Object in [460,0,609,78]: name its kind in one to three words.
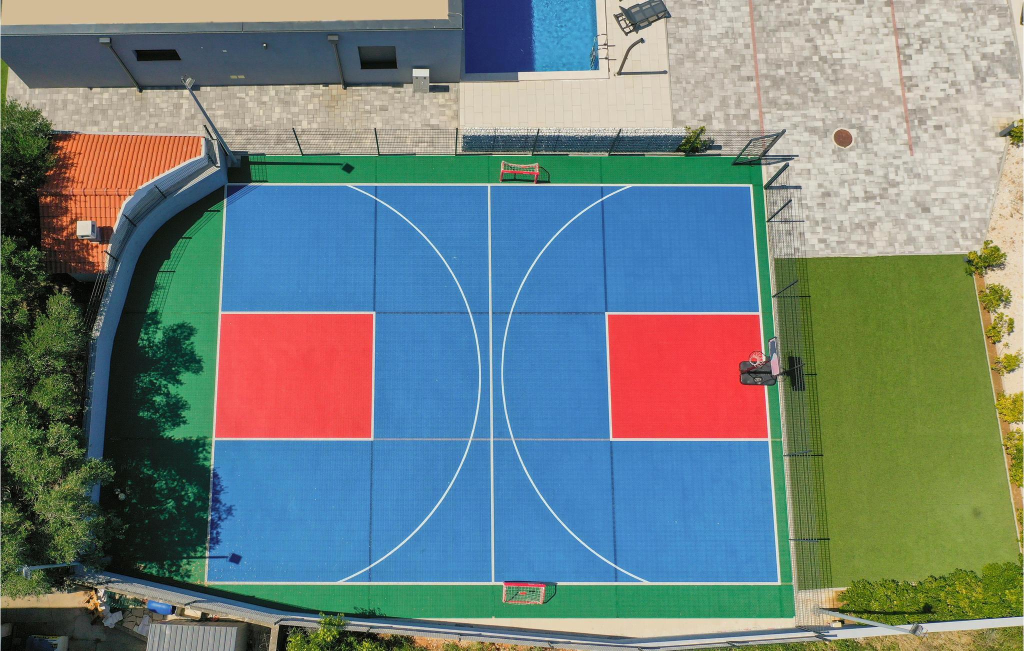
swimming pool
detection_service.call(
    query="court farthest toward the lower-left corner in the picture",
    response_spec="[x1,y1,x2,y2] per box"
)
[97,157,793,618]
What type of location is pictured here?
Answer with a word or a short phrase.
sports ground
